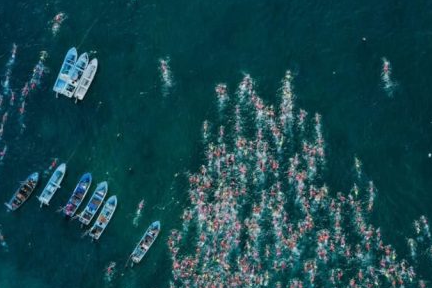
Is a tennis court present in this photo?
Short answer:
No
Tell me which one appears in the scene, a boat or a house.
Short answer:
boat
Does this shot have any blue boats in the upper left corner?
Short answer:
Yes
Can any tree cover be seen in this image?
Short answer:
No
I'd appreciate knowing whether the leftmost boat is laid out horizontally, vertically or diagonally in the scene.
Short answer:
diagonally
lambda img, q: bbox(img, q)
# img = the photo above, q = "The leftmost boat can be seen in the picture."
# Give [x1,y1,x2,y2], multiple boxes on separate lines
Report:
[2,171,37,211]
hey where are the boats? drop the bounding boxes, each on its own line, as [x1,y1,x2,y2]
[60,171,90,217]
[35,162,65,206]
[50,45,74,92]
[76,180,106,225]
[2,171,37,211]
[129,219,160,264]
[86,195,116,240]
[63,51,86,97]
[73,57,96,101]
